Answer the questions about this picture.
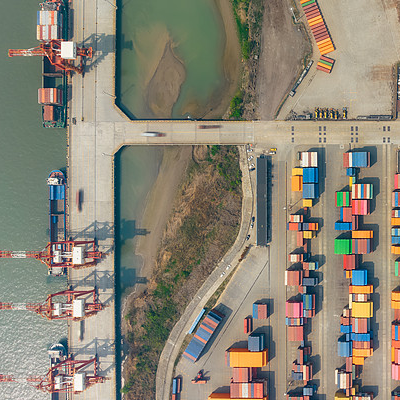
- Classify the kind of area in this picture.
port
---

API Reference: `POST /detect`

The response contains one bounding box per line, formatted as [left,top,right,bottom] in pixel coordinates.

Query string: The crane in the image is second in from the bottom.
[0,280,96,322]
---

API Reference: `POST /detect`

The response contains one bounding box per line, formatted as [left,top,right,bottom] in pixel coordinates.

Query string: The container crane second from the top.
[0,232,96,270]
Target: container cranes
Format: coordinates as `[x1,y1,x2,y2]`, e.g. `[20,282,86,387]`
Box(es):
[0,348,96,395]
[11,39,90,79]
[0,232,96,270]
[0,280,96,322]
